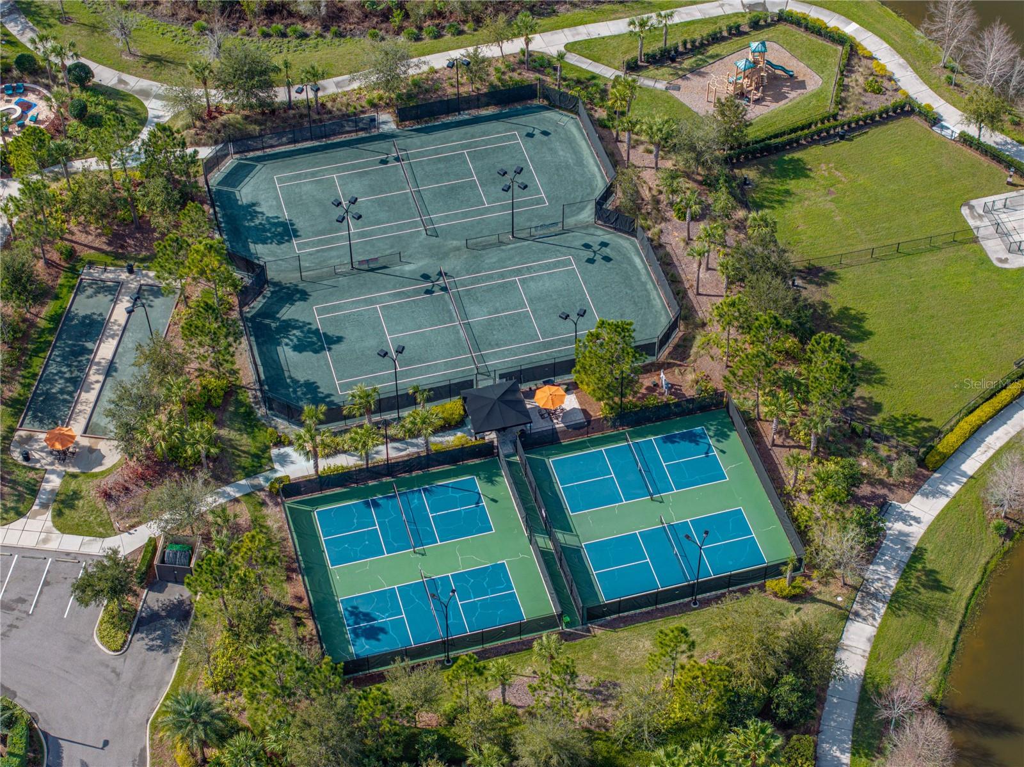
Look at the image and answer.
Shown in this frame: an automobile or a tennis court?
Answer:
tennis court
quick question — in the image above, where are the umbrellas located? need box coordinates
[40,426,75,459]
[534,385,569,411]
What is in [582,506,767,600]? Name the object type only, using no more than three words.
sports court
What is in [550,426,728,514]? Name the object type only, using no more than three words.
sports court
